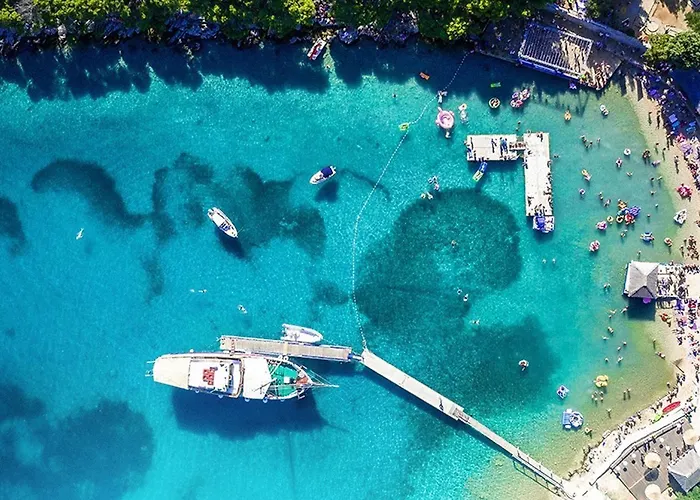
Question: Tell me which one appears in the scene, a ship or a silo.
ship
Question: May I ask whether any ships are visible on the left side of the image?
Yes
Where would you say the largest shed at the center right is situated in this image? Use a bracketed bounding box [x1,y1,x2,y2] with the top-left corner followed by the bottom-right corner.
[624,261,659,299]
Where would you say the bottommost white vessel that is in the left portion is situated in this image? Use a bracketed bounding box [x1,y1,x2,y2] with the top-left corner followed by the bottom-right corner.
[146,350,338,404]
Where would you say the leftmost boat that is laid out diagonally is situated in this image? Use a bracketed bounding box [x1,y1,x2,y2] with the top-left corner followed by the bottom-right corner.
[206,207,245,237]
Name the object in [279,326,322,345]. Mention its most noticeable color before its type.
white boat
